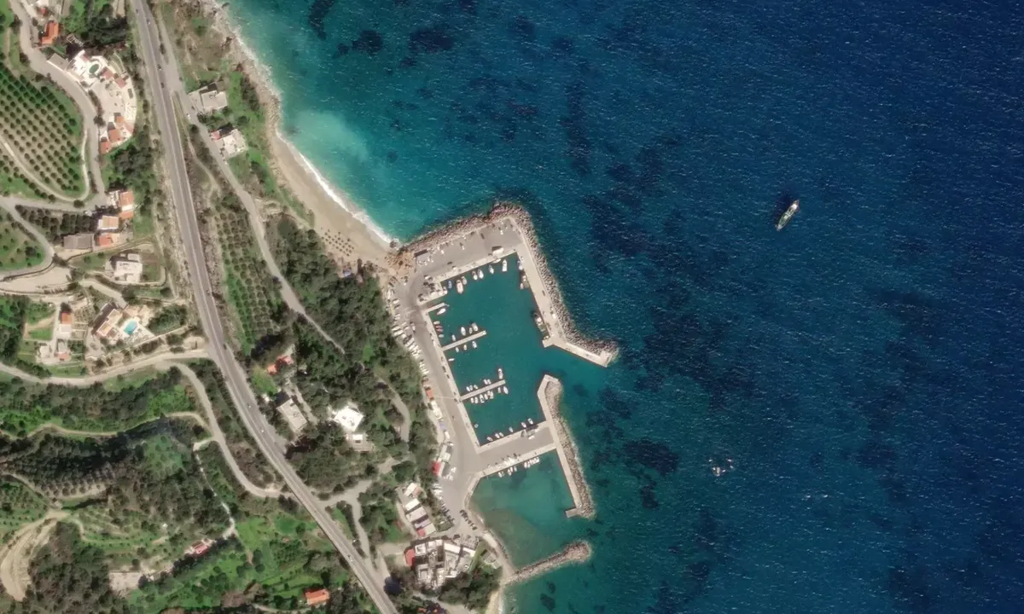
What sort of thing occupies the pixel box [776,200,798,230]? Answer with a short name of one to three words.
ship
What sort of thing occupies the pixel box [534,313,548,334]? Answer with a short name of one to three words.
boat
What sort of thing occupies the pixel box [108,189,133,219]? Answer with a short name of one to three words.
house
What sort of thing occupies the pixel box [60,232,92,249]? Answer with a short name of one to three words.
shed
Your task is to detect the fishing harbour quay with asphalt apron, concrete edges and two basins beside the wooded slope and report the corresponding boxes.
[383,200,556,535]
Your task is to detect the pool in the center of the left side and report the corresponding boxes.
[121,319,137,335]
